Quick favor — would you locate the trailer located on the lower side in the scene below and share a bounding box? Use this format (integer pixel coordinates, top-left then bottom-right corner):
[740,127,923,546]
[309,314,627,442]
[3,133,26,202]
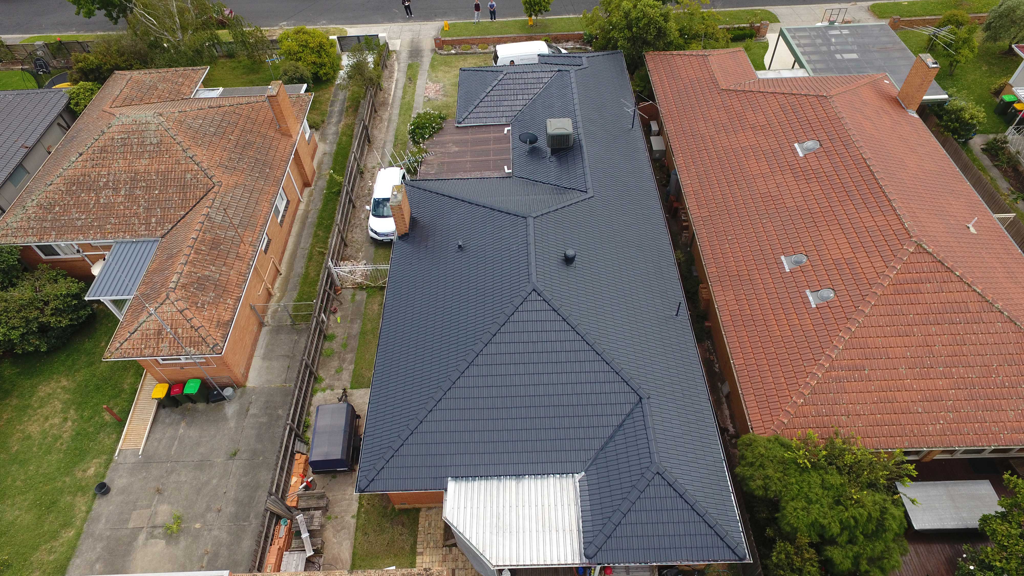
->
[305,381,363,475]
